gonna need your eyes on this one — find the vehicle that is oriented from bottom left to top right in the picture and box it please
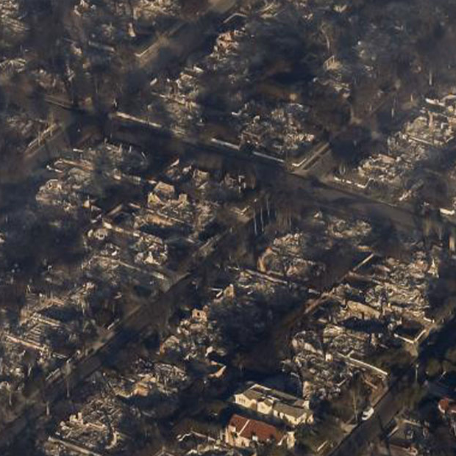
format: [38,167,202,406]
[361,407,374,420]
